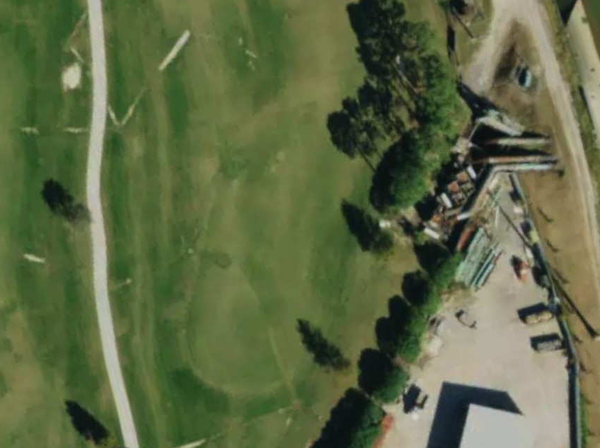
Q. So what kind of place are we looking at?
golf course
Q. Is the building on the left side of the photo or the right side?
right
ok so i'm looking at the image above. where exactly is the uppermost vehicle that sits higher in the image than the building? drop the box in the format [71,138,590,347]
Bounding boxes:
[514,257,527,278]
